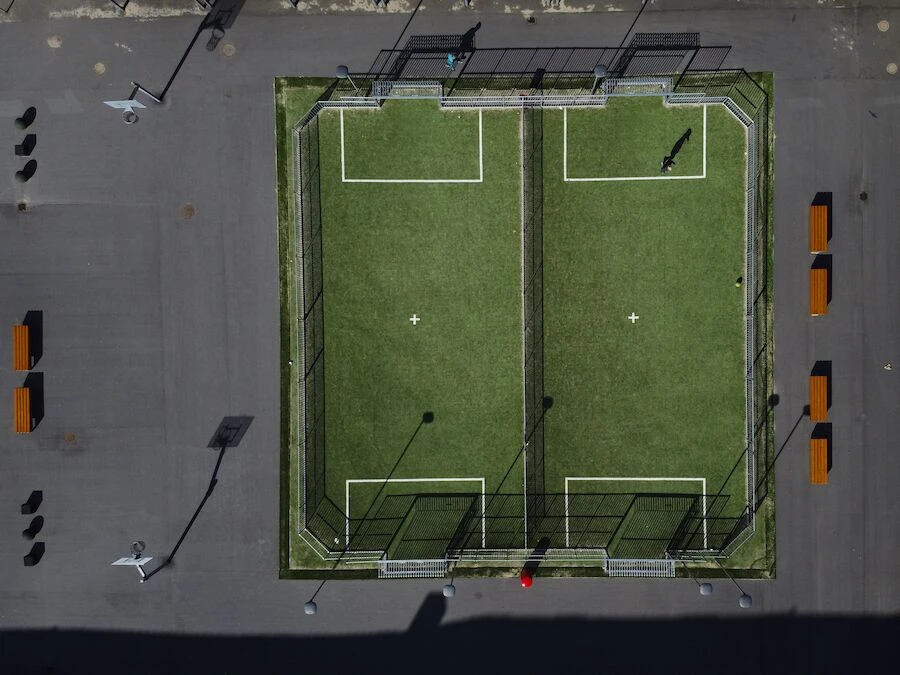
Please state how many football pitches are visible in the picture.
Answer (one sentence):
The count of football pitches comes to 2.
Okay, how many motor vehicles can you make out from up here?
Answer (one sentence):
The picture shows no motor vehicles.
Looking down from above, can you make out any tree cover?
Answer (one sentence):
No, there is no tree cover in the image.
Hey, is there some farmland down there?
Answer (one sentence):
No, the scene doesn't show any farmland.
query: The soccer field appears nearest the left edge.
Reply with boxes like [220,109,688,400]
[300,107,526,551]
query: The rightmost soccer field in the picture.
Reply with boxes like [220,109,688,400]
[524,105,748,551]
